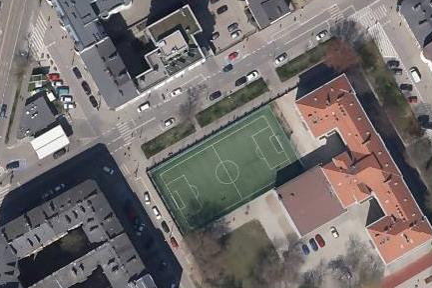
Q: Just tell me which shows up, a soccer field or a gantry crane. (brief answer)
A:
soccer field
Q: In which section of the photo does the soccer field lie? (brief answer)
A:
center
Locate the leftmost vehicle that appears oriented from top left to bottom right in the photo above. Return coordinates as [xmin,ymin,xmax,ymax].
[44,88,57,104]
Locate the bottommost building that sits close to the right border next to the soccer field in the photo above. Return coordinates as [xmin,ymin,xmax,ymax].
[294,71,432,266]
